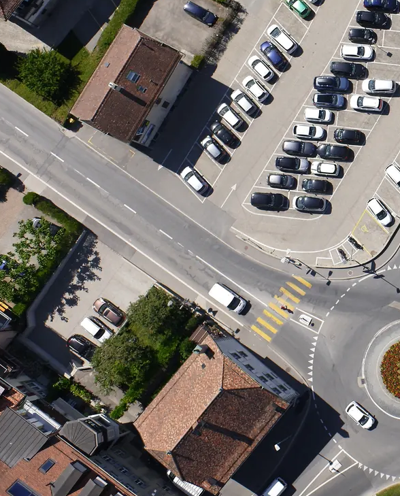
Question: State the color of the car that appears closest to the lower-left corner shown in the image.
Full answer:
The car that appears closest to the lower-left corner looks black in the image.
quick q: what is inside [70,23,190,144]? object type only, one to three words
building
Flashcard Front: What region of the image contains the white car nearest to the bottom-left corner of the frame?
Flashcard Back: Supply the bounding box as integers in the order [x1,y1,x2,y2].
[79,312,115,342]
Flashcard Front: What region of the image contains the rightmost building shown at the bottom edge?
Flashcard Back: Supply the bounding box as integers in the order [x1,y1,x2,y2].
[134,334,297,496]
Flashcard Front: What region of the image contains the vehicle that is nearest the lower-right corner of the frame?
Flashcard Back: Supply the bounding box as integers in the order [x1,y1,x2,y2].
[343,398,377,432]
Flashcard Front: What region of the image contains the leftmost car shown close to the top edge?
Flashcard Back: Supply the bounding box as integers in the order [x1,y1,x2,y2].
[181,0,219,28]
